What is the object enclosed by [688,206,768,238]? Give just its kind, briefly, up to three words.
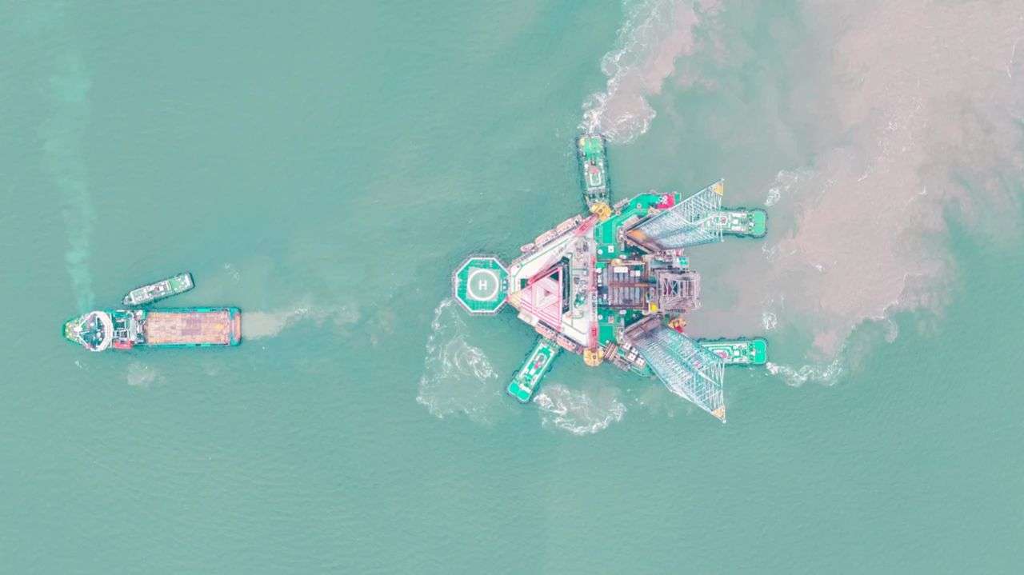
boat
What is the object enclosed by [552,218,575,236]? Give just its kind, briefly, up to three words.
boat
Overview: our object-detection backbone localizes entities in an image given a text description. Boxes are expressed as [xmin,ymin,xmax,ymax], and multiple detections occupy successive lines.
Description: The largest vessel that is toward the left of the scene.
[63,305,243,351]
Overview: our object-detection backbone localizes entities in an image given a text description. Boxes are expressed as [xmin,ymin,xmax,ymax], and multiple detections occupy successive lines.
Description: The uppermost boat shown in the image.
[578,132,612,212]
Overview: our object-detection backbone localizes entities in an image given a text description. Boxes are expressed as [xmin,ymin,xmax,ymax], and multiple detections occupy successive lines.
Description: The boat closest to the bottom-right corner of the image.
[690,336,769,370]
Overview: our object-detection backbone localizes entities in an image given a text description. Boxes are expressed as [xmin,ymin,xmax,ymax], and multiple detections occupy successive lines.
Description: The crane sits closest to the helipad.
[527,199,611,284]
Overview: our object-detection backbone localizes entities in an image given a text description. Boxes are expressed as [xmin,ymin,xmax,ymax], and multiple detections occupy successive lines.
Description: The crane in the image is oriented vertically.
[583,248,603,368]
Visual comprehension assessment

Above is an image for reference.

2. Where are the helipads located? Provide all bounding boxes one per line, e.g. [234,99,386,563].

[452,254,513,316]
